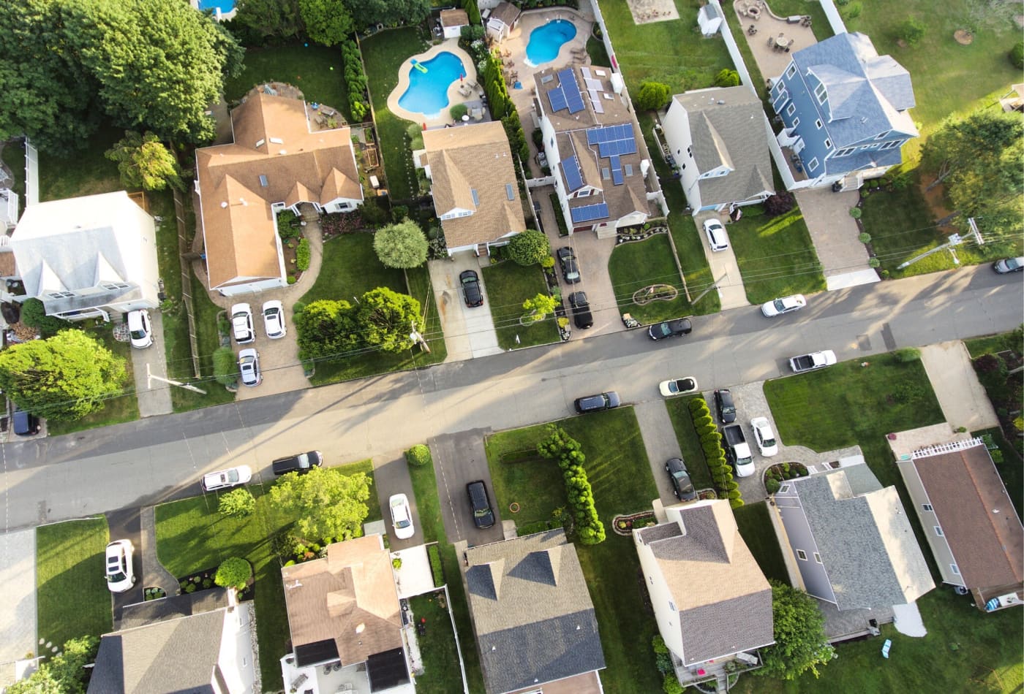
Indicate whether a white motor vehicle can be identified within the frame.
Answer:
Yes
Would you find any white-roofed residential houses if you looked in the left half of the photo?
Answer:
Yes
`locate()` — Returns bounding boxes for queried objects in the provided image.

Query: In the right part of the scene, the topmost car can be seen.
[702,218,730,255]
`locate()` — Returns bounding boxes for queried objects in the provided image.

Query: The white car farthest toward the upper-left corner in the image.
[128,309,154,349]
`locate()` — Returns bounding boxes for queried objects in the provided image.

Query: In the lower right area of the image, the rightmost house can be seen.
[891,427,1024,620]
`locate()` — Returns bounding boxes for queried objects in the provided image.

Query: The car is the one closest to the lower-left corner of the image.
[104,541,134,591]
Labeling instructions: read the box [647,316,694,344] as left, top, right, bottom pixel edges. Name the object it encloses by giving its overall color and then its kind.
black car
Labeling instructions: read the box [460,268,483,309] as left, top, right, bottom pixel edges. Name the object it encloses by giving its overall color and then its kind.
black car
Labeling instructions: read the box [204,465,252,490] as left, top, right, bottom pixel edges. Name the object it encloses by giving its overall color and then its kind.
white car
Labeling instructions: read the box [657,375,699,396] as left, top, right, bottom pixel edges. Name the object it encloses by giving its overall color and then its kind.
white car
